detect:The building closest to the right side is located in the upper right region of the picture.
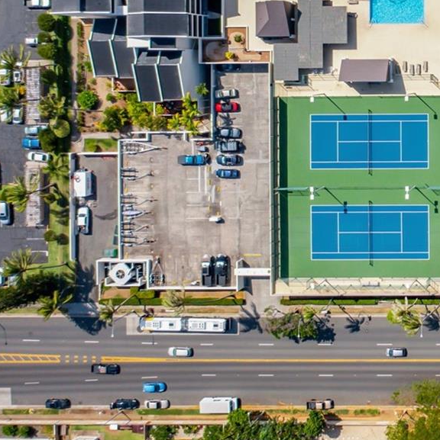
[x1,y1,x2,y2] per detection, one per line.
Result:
[339,60,391,82]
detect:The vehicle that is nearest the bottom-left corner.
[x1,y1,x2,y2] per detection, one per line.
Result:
[45,398,72,411]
